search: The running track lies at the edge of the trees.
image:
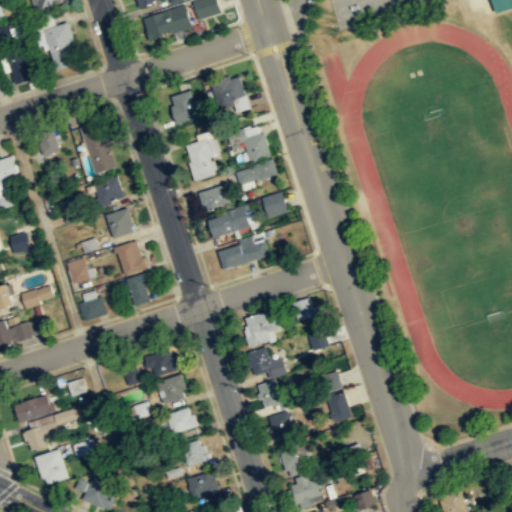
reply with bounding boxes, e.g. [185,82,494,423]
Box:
[324,24,512,406]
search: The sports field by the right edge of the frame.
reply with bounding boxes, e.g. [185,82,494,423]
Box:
[363,42,512,388]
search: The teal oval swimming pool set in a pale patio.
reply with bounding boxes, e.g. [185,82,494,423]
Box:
[22,274,47,290]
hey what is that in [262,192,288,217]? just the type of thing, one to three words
building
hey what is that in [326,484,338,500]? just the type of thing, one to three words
vehicle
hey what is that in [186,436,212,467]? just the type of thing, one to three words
house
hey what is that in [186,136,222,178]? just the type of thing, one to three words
house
